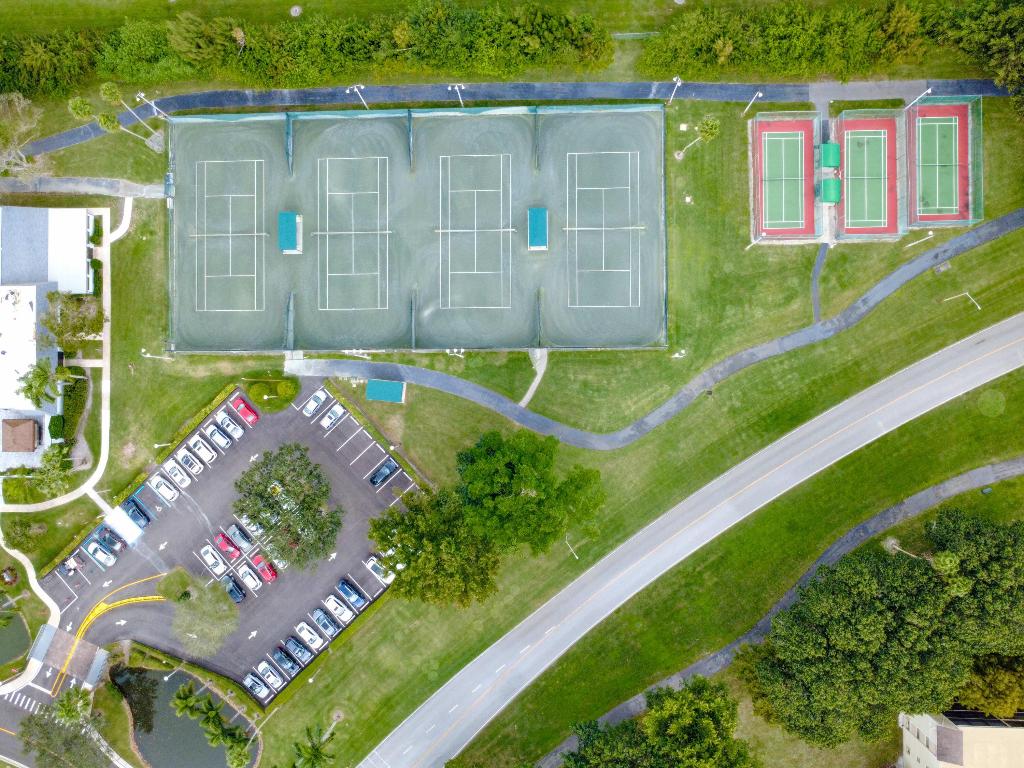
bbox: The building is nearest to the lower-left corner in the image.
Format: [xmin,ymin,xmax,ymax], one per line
[2,419,42,452]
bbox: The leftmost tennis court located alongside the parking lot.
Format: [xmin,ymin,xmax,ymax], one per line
[172,117,292,350]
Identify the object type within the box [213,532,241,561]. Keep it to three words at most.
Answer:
car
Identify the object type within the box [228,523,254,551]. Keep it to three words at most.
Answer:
car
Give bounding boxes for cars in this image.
[244,672,270,701]
[219,572,247,601]
[370,459,396,484]
[217,410,243,439]
[259,661,283,688]
[367,555,391,582]
[164,461,190,489]
[97,526,125,555]
[150,474,178,502]
[189,435,217,464]
[301,390,329,417]
[251,553,278,582]
[272,646,300,677]
[88,541,114,567]
[200,545,228,575]
[123,500,150,529]
[286,636,310,663]
[318,403,346,431]
[213,532,241,561]
[326,593,353,624]
[232,396,257,424]
[206,425,230,450]
[314,608,340,637]
[179,449,202,474]
[238,565,262,591]
[340,578,366,607]
[264,541,291,571]
[228,523,254,551]
[297,620,323,650]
